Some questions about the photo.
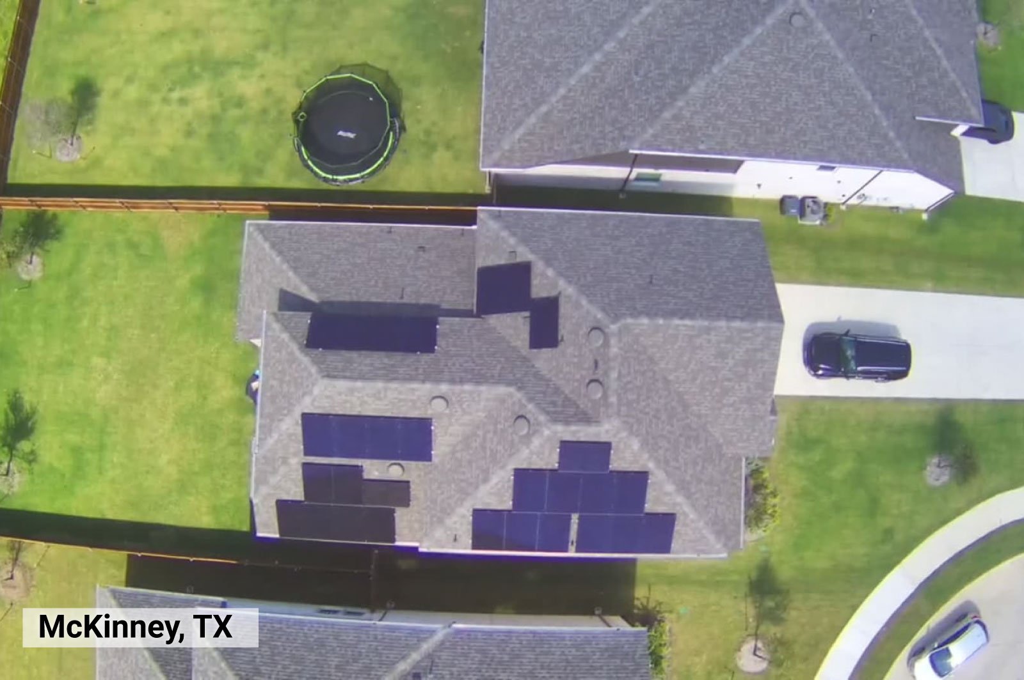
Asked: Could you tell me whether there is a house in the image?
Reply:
Yes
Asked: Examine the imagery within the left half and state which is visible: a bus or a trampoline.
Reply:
trampoline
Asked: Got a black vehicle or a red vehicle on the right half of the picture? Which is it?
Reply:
black vehicle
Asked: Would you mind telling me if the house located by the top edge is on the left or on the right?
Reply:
right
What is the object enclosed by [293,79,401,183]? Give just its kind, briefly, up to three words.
trampoline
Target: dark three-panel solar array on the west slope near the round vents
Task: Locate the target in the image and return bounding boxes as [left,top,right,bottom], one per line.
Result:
[477,261,560,350]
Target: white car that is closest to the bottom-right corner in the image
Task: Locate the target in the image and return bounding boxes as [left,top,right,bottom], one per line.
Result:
[910,616,988,680]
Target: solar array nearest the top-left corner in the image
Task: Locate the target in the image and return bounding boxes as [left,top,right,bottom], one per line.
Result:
[306,318,439,353]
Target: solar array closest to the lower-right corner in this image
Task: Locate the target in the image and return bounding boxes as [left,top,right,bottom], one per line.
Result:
[471,441,676,554]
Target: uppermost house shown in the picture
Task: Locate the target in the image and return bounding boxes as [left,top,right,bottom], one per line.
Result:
[479,0,985,216]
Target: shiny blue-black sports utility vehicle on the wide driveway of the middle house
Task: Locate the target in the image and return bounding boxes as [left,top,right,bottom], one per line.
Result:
[803,330,912,381]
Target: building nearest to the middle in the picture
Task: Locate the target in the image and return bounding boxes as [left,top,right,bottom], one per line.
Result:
[235,204,784,556]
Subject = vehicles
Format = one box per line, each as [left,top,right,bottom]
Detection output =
[946,103,1016,147]
[803,330,912,381]
[910,616,988,680]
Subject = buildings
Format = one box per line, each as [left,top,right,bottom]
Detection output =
[235,204,784,556]
[94,584,651,680]
[479,0,985,216]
